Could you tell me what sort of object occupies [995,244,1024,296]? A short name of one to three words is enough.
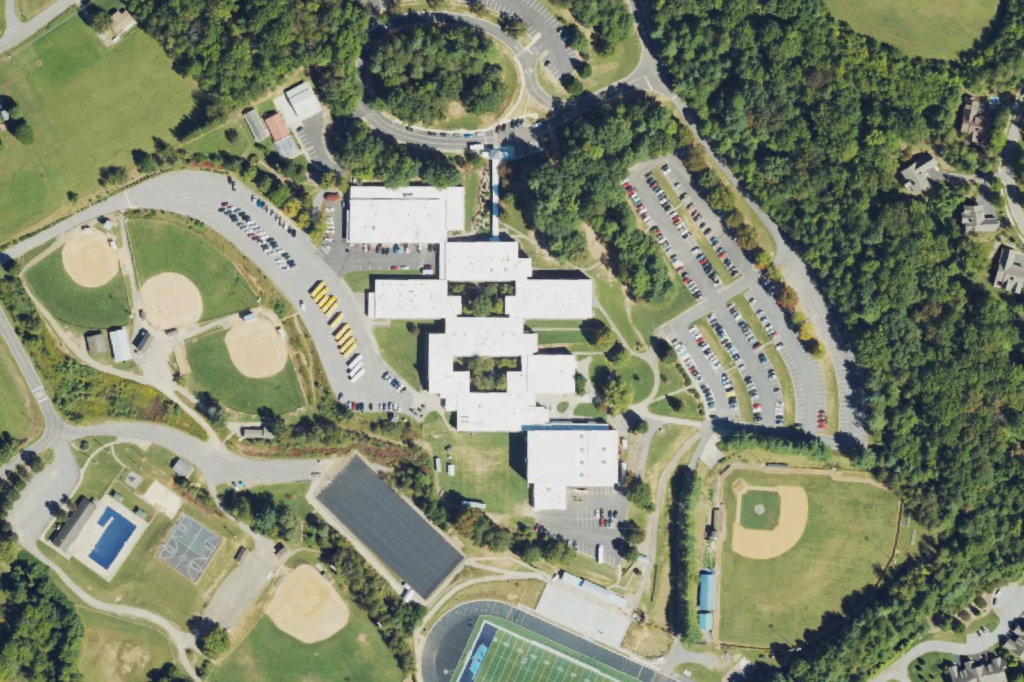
house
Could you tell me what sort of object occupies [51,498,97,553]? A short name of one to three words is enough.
building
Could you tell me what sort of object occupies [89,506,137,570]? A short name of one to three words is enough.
swimming pool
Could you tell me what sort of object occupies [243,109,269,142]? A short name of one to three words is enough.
shed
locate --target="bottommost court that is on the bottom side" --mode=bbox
[156,512,222,582]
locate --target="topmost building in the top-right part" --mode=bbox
[961,98,986,142]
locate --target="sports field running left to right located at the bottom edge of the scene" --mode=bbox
[449,615,636,682]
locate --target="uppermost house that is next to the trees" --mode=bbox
[110,8,139,41]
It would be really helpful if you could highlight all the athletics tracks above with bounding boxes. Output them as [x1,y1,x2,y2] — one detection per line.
[422,599,656,682]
